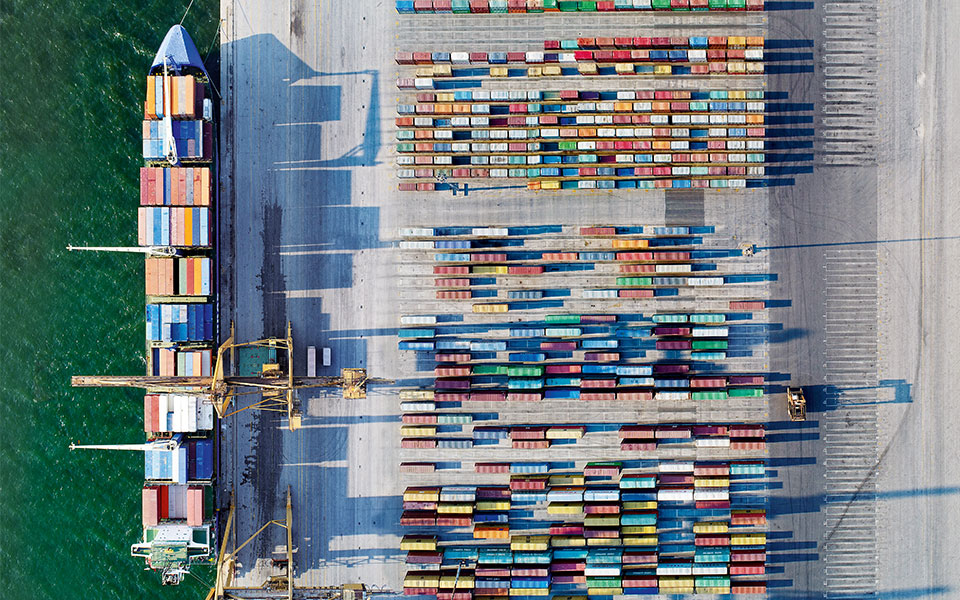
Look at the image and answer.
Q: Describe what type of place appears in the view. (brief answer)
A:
port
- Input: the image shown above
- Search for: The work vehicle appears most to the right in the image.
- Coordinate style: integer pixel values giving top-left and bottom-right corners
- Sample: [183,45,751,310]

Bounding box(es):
[777,383,807,420]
